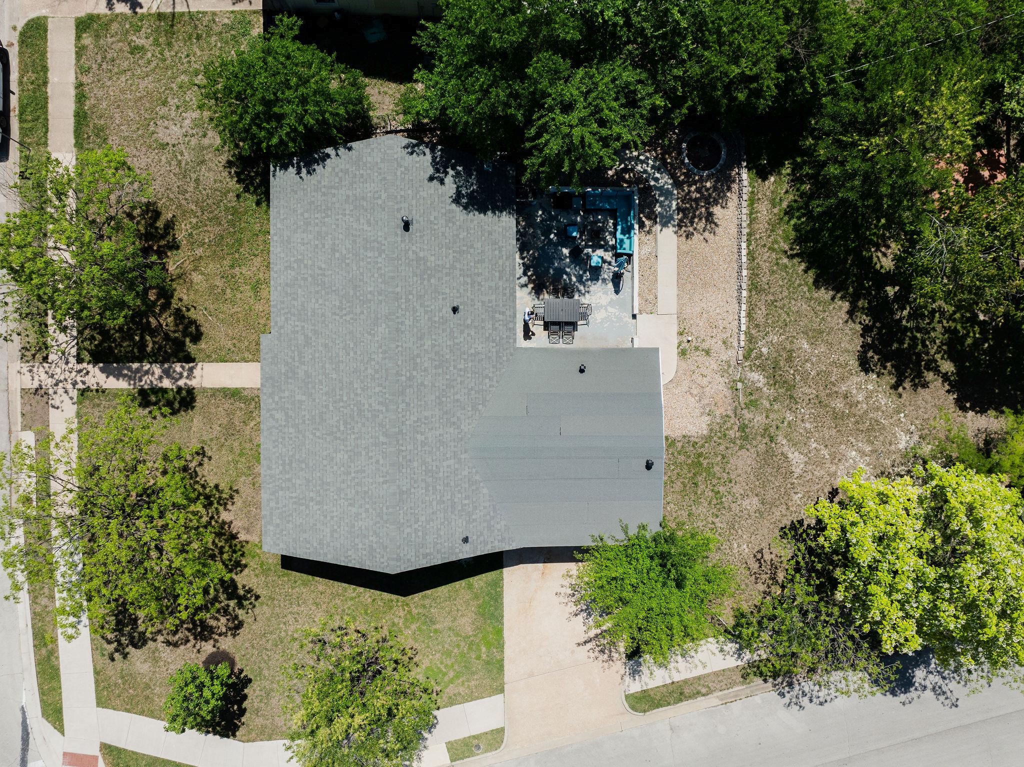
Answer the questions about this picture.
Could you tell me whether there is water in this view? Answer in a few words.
No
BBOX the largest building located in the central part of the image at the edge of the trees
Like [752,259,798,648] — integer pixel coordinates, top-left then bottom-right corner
[261,133,666,574]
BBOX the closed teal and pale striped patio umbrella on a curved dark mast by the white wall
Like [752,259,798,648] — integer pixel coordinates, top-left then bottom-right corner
[611,255,634,280]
